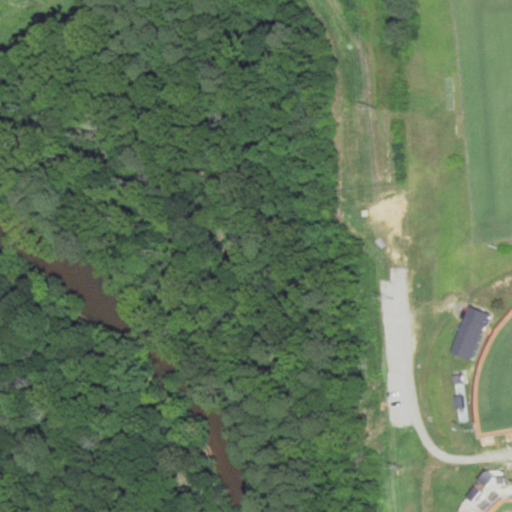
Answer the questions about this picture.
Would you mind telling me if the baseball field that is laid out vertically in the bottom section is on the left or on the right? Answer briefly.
right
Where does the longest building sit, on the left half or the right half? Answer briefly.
right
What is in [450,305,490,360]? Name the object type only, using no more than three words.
building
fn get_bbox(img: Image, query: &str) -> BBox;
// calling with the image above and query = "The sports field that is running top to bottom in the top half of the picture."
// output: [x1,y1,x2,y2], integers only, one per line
[453,0,512,243]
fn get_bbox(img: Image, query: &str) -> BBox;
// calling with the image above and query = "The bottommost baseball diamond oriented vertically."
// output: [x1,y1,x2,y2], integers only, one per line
[473,308,512,438]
